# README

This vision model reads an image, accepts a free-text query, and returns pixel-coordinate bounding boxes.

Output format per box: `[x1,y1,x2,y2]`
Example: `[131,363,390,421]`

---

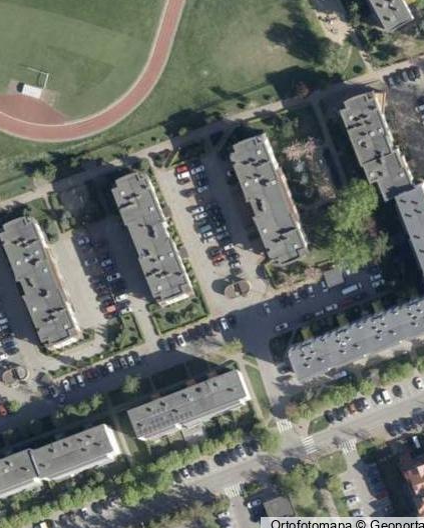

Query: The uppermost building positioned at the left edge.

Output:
[0,217,79,350]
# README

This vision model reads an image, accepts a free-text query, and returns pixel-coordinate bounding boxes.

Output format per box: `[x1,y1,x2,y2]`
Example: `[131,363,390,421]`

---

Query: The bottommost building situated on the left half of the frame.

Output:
[0,425,119,496]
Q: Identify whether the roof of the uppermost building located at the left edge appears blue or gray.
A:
gray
